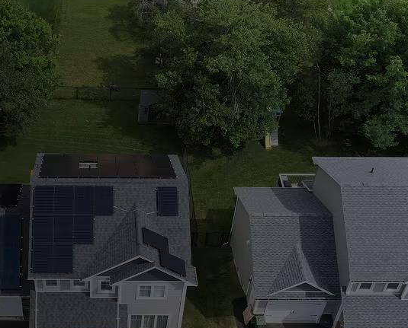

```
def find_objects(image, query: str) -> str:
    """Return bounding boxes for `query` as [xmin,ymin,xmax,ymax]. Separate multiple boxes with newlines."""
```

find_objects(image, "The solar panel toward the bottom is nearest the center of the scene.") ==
[157,186,179,214]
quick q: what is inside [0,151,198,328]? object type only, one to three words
house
